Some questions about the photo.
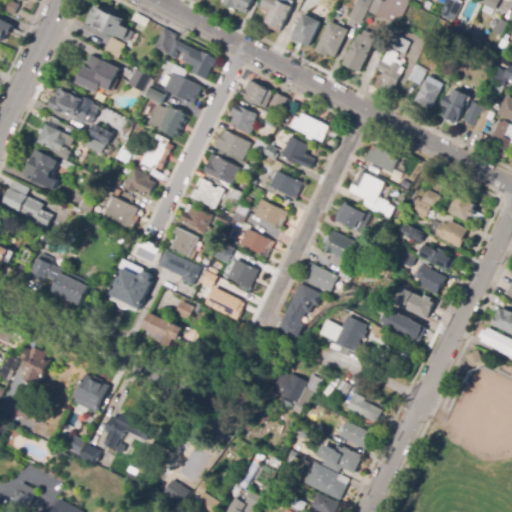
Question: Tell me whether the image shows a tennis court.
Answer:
No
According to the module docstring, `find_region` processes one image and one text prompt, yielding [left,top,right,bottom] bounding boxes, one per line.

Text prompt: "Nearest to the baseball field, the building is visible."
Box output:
[482,328,512,356]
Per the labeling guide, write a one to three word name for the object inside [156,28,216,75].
house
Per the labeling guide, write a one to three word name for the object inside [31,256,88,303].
house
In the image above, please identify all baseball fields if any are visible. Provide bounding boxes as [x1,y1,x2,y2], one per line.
[416,368,512,512]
